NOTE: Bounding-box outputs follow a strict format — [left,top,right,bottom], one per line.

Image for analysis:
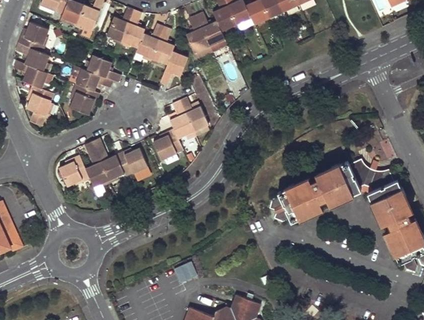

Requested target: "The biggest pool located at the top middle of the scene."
[222,60,238,82]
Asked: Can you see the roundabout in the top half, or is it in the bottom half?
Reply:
bottom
